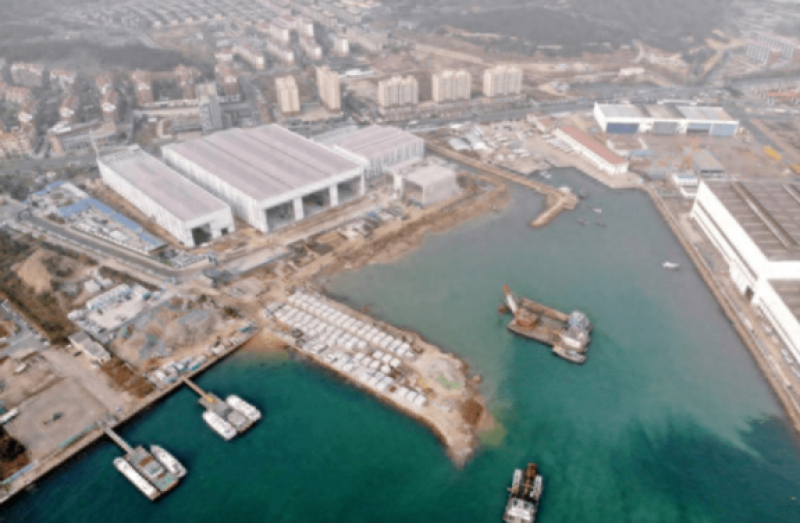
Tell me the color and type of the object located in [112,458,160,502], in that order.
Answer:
white boat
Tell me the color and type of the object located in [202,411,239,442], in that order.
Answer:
white boat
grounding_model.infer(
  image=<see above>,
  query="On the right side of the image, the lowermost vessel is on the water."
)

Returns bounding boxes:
[503,468,540,523]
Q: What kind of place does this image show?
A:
port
